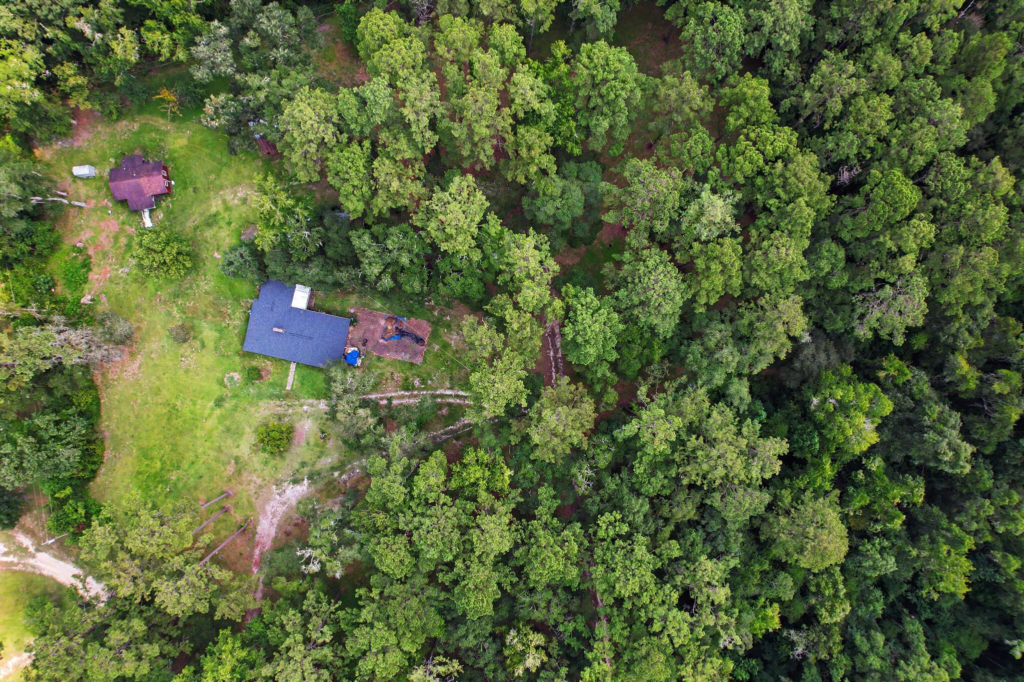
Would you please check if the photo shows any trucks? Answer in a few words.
No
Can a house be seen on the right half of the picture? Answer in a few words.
No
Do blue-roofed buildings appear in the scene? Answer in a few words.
Yes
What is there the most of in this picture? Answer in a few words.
trees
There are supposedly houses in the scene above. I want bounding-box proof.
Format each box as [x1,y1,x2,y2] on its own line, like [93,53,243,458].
[108,153,172,212]
[243,278,351,372]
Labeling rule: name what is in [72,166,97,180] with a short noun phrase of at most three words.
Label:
shed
